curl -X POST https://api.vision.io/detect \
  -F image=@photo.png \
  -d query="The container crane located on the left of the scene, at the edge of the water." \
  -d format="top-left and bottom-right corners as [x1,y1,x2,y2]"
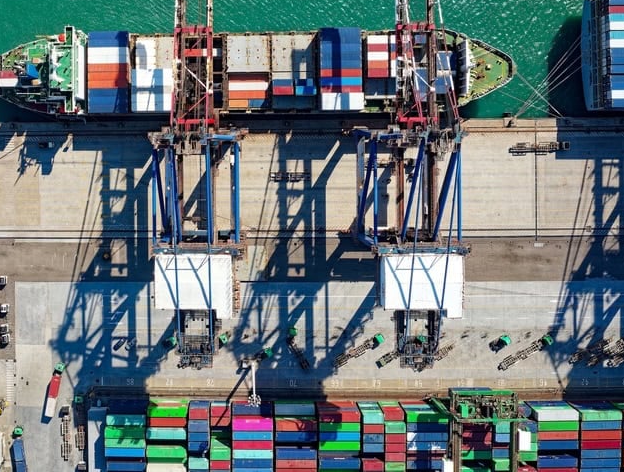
[142,0,256,368]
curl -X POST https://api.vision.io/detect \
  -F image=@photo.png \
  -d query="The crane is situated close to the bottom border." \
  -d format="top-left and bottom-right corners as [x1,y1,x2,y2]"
[431,389,531,472]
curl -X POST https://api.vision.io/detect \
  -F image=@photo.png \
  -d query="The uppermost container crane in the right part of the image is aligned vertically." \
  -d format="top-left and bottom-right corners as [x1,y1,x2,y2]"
[334,0,468,368]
